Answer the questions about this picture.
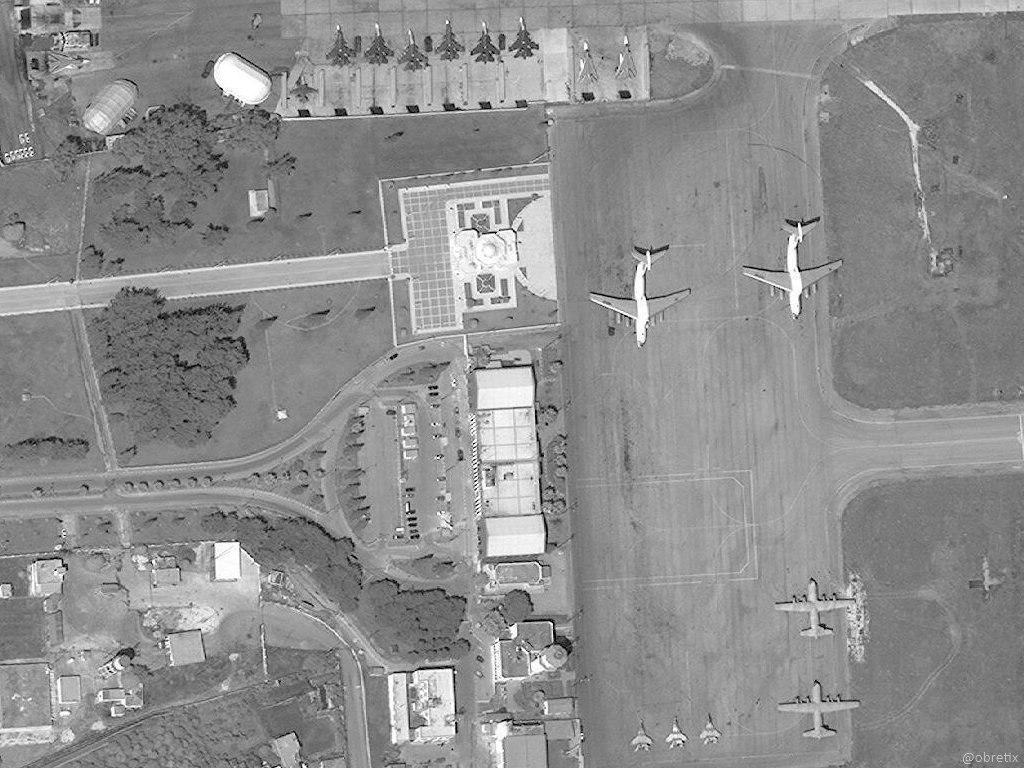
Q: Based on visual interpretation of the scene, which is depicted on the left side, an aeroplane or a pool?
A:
aeroplane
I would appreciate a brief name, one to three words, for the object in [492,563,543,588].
building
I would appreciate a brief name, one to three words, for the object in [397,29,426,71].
airplane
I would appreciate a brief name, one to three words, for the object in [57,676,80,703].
house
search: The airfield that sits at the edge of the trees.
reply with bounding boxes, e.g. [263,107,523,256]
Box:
[276,0,1024,768]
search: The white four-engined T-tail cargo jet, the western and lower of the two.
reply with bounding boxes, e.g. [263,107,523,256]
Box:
[588,250,690,347]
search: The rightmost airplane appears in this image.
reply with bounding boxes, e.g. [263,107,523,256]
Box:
[984,559,1005,598]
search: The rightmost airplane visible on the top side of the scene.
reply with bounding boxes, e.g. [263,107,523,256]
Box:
[742,221,843,318]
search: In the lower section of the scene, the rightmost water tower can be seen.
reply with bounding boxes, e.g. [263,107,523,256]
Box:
[99,655,132,676]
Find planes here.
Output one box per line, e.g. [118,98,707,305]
[288,75,319,102]
[363,23,393,65]
[631,719,654,753]
[471,22,500,63]
[325,26,355,68]
[775,580,856,638]
[700,716,723,747]
[397,29,426,71]
[588,250,690,347]
[612,36,643,78]
[742,221,843,318]
[984,559,1005,598]
[572,41,602,82]
[509,17,538,60]
[778,682,859,740]
[434,21,463,62]
[666,717,689,750]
